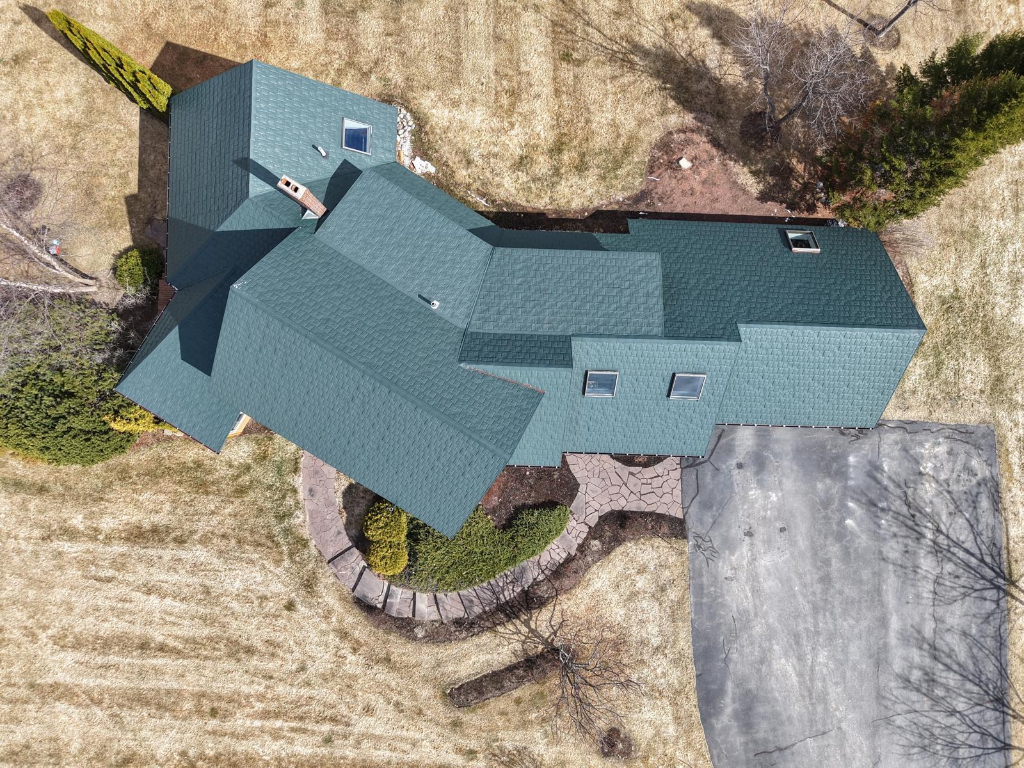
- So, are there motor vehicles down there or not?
No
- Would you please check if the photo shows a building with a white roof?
No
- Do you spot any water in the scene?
No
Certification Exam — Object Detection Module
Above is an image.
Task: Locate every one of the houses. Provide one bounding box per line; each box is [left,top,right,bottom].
[116,59,926,536]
